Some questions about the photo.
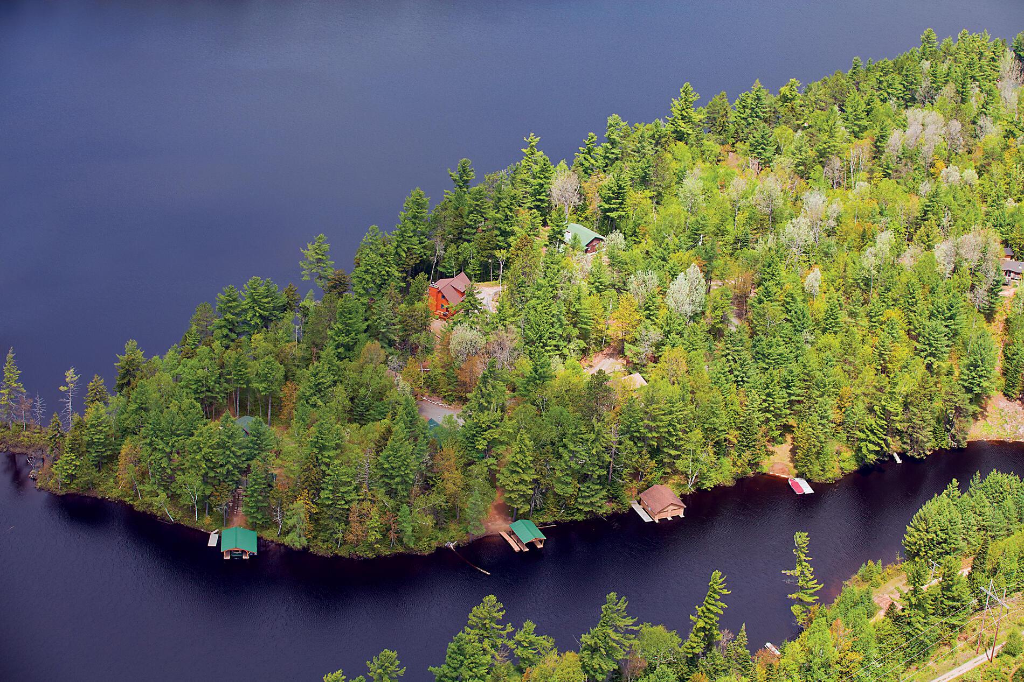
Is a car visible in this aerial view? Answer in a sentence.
No, there is no car in the image.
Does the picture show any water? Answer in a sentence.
Yes, water shows up in the scene.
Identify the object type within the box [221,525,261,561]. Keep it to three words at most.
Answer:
building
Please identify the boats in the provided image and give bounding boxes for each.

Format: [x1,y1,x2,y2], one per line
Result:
[233,552,243,561]
[788,478,808,496]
